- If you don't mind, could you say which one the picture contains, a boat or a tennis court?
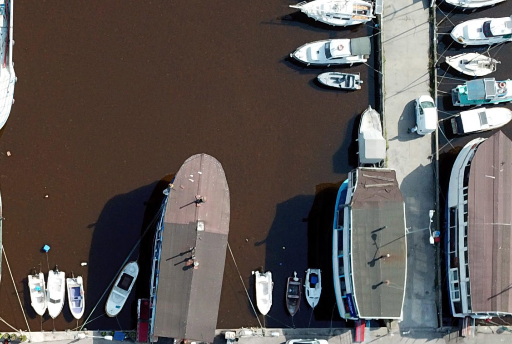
boat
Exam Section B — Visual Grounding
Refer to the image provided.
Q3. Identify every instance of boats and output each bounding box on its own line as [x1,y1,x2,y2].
[288,33,381,74]
[436,0,505,17]
[330,167,416,333]
[30,269,47,314]
[289,0,380,26]
[73,251,141,330]
[286,274,301,316]
[437,39,507,83]
[439,129,512,332]
[82,153,263,343]
[353,100,386,168]
[47,266,65,332]
[302,269,321,324]
[439,106,512,134]
[438,76,512,109]
[251,267,275,320]
[436,8,512,60]
[318,72,381,99]
[67,272,84,318]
